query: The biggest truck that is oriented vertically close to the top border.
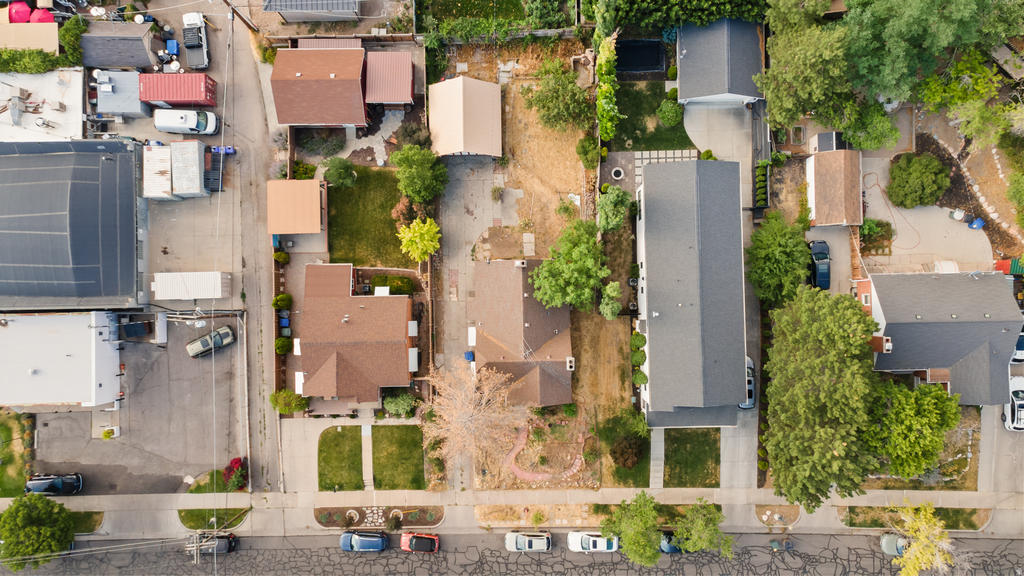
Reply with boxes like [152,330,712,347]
[183,13,212,72]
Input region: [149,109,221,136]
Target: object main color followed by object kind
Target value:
white vehicle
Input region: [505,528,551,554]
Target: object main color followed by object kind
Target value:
white car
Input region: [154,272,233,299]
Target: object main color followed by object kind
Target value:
white shipping container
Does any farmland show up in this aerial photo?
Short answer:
No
